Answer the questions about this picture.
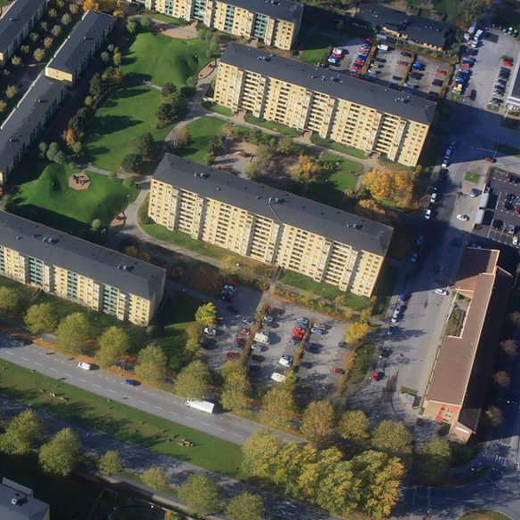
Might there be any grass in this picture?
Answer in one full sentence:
Yes, grass shows up in the scene.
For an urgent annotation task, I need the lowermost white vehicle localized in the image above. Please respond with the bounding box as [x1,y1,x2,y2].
[182,394,220,415]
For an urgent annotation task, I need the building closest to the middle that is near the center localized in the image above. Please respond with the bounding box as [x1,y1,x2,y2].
[149,153,394,295]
